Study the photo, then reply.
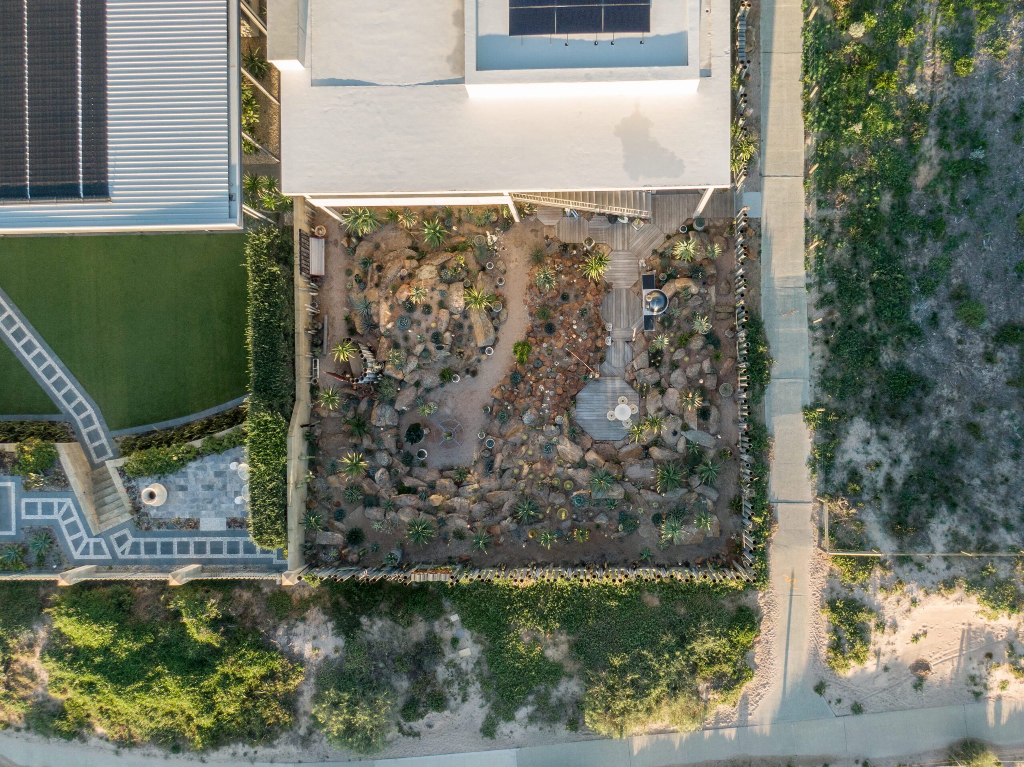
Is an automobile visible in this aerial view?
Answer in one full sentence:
No, the picture doesn't show any automobile.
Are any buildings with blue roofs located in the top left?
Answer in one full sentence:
No, the scene shows no building with a blue roof in the top left.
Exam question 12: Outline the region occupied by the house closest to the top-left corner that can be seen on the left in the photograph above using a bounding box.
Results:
[0,0,283,238]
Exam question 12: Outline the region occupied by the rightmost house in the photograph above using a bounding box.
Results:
[267,0,730,222]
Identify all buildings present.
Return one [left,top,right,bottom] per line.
[0,0,283,238]
[267,0,730,222]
